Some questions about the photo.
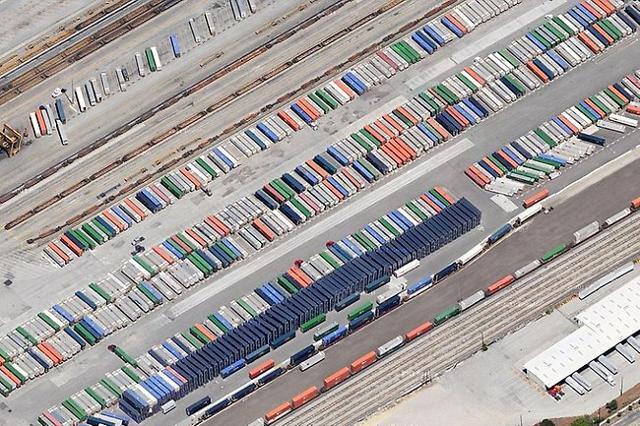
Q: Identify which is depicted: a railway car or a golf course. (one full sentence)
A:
Looking from above, you can make out a railway car.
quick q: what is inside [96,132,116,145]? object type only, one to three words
rail car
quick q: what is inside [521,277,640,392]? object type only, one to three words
warehouse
